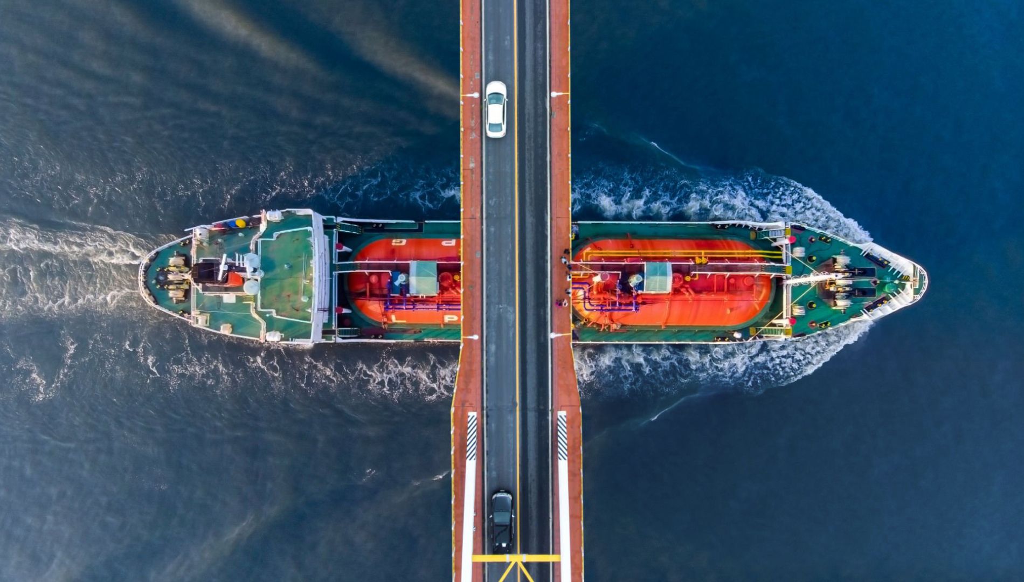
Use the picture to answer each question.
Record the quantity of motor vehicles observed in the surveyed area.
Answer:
2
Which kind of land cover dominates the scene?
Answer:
water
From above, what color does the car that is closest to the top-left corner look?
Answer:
white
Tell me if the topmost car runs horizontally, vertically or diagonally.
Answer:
vertically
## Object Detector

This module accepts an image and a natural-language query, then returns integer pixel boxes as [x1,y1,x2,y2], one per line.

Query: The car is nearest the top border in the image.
[483,82,509,139]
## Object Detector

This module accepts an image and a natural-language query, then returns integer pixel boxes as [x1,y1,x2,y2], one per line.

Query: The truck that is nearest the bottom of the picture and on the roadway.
[488,489,516,554]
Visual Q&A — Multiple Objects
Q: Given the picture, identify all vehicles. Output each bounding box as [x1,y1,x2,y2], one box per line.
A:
[488,489,516,554]
[483,82,509,139]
